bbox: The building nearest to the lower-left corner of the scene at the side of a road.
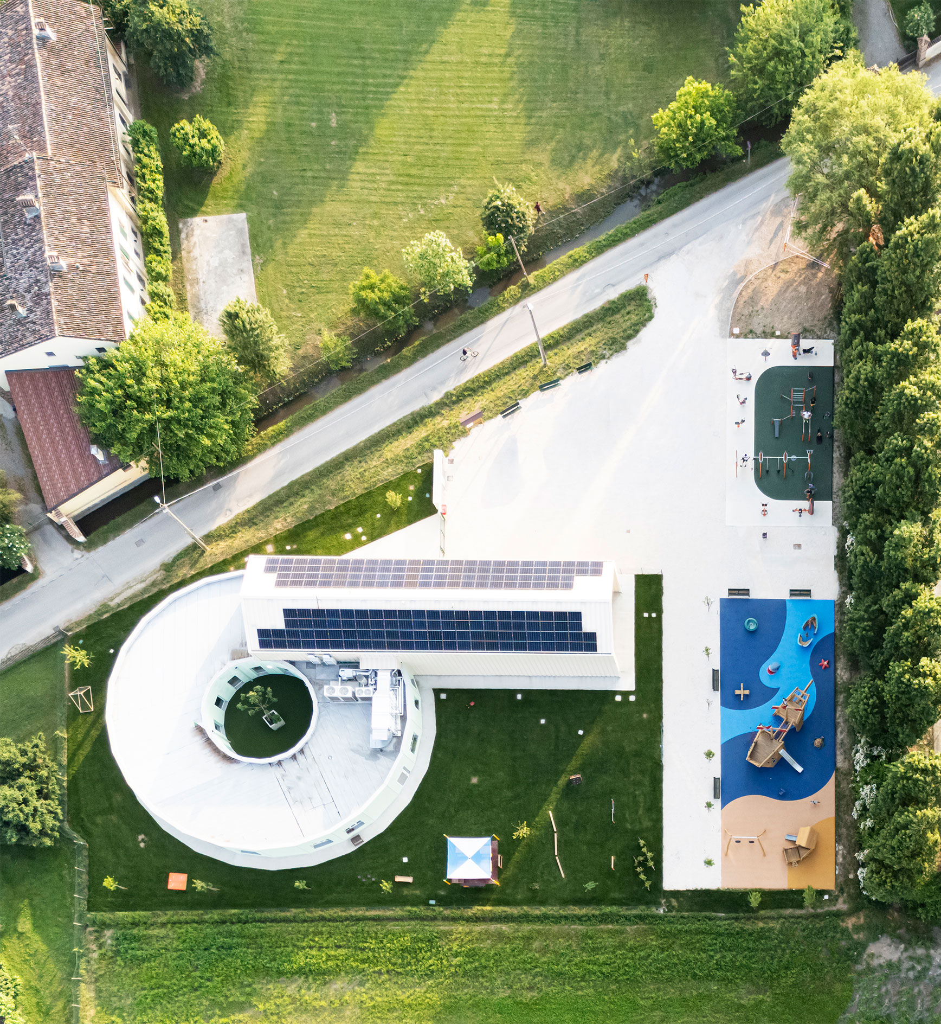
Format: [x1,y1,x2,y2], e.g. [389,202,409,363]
[105,570,420,856]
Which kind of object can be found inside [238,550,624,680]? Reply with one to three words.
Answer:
building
